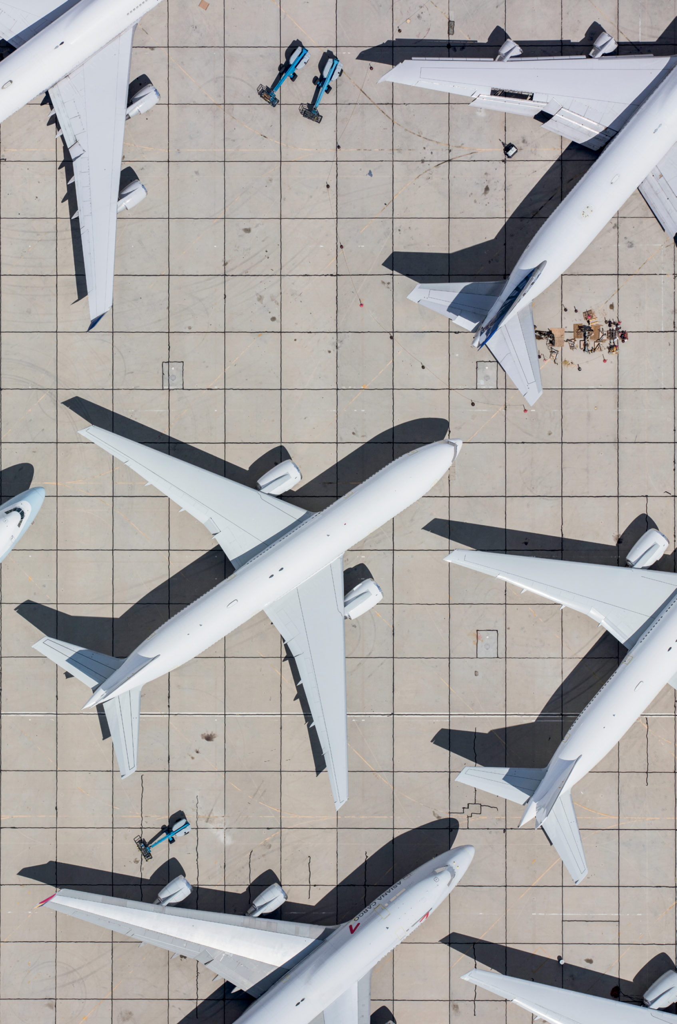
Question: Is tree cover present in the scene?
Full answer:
No, the picture contains no tree cover.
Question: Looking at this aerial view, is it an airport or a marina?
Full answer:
This looks like an airport.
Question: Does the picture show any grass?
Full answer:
No, grass can't be seen anywhere here.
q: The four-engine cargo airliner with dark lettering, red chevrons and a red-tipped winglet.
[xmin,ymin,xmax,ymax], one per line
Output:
[33,845,474,1024]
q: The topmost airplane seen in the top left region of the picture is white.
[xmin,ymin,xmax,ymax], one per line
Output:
[0,0,162,332]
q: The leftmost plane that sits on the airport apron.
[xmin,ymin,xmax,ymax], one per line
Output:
[0,488,45,562]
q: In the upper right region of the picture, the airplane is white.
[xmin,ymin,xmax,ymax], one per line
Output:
[378,33,677,406]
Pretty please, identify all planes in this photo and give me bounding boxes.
[378,33,677,406]
[0,0,162,332]
[33,845,474,1024]
[0,488,45,562]
[461,969,677,1024]
[31,425,463,810]
[443,530,677,885]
